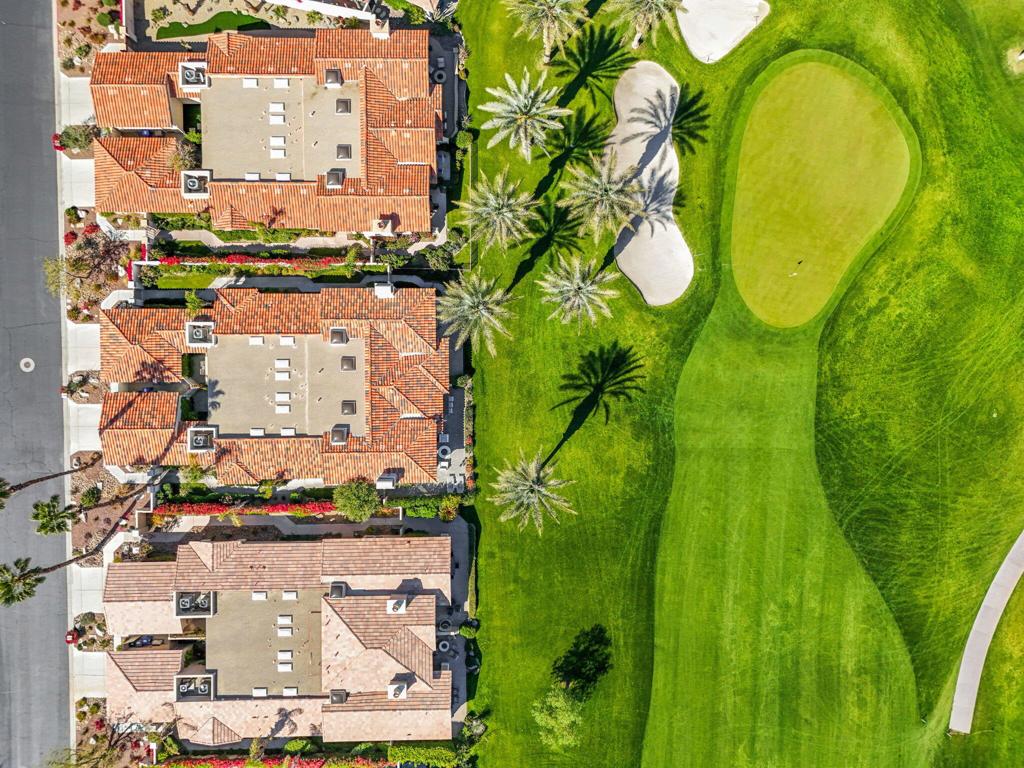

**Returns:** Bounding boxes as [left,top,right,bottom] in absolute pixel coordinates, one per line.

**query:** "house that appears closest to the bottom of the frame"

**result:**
[102,536,452,745]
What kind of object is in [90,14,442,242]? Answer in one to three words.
house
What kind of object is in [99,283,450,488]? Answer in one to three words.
house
